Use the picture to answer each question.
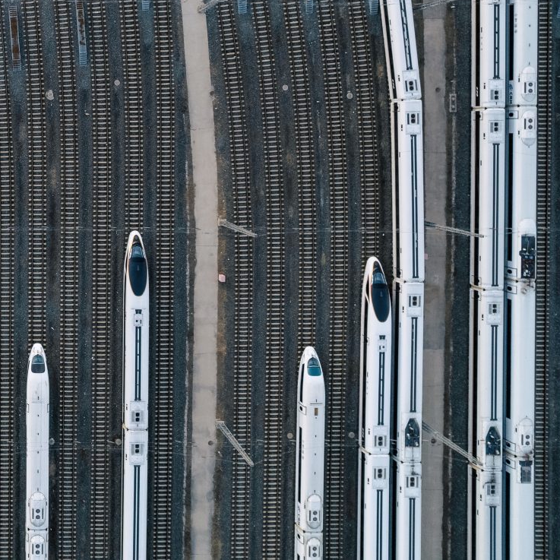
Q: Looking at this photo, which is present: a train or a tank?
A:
train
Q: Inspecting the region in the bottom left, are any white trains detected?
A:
Yes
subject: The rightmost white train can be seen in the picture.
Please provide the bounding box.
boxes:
[501,0,538,560]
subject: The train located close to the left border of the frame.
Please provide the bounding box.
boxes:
[24,343,49,560]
